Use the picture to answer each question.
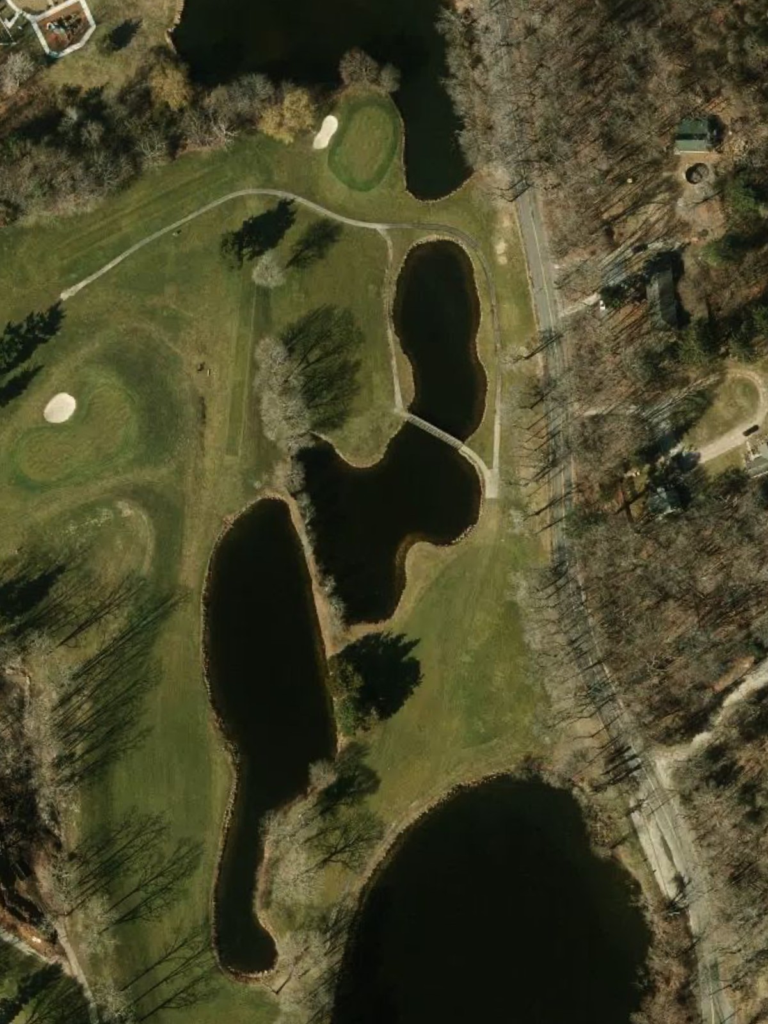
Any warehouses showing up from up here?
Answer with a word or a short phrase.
No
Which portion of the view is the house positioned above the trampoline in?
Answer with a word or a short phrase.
top right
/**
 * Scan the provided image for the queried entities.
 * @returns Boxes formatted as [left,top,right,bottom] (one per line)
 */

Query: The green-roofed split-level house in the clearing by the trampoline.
[674,118,717,156]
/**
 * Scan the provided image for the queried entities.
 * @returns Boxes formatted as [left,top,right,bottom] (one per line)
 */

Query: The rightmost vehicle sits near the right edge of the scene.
[741,424,759,437]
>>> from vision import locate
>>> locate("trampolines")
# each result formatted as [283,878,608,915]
[685,166,704,184]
